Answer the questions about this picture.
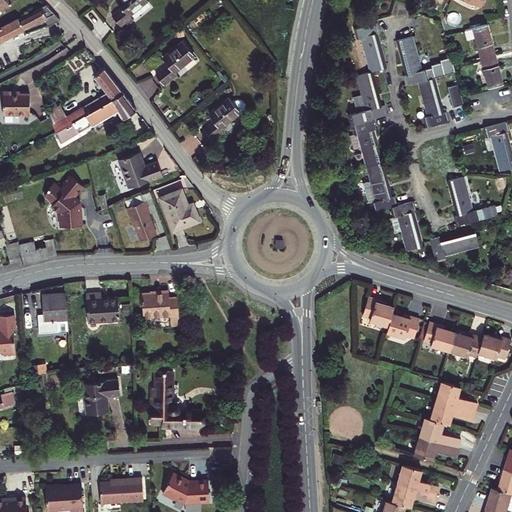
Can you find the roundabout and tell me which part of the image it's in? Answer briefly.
center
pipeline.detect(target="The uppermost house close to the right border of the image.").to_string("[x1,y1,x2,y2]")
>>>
[466,22,494,48]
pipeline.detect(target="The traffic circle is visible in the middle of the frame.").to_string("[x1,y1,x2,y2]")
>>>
[221,188,340,302]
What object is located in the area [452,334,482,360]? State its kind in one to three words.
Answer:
house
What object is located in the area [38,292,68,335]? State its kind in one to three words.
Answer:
house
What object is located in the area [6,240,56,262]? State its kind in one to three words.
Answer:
building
